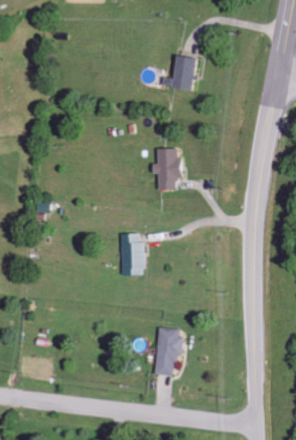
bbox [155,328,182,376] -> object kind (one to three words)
house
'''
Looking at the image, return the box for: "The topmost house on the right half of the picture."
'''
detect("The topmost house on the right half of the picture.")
[162,56,198,90]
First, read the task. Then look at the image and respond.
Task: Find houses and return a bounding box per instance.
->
[121,234,149,276]
[162,56,198,90]
[152,149,181,190]
[155,328,182,376]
